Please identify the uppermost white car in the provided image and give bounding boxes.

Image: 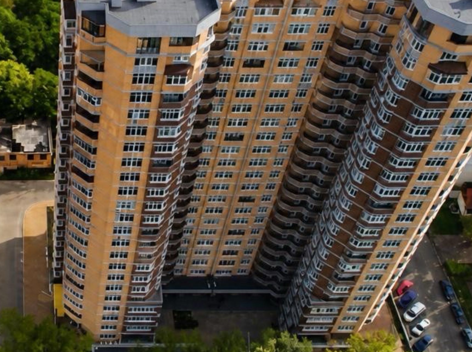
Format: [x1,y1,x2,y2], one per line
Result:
[405,303,426,322]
